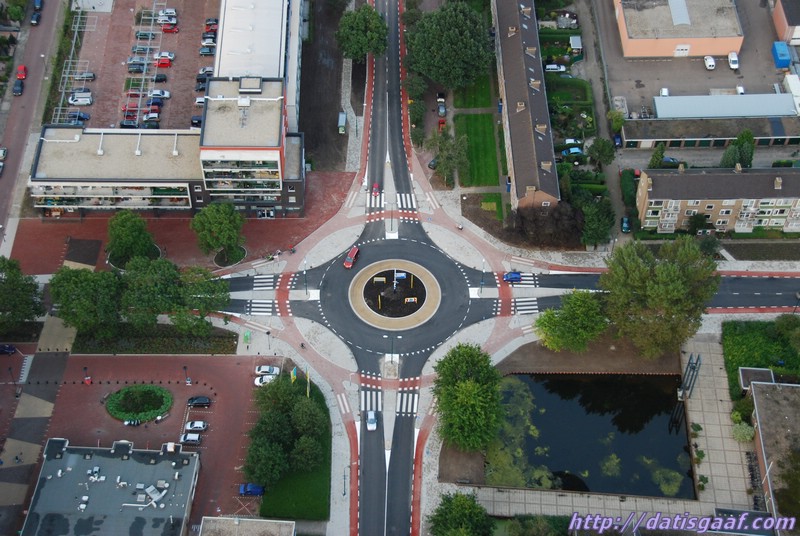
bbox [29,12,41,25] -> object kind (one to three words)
vehicle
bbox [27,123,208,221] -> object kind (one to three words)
building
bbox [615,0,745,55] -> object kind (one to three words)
building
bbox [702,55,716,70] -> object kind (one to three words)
vehicle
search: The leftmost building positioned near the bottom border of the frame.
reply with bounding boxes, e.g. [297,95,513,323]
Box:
[24,438,205,536]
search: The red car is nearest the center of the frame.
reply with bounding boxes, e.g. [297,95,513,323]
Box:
[344,248,359,266]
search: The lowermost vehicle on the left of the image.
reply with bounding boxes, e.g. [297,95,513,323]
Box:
[238,484,265,496]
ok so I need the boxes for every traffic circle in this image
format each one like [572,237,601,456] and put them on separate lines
[317,238,472,356]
